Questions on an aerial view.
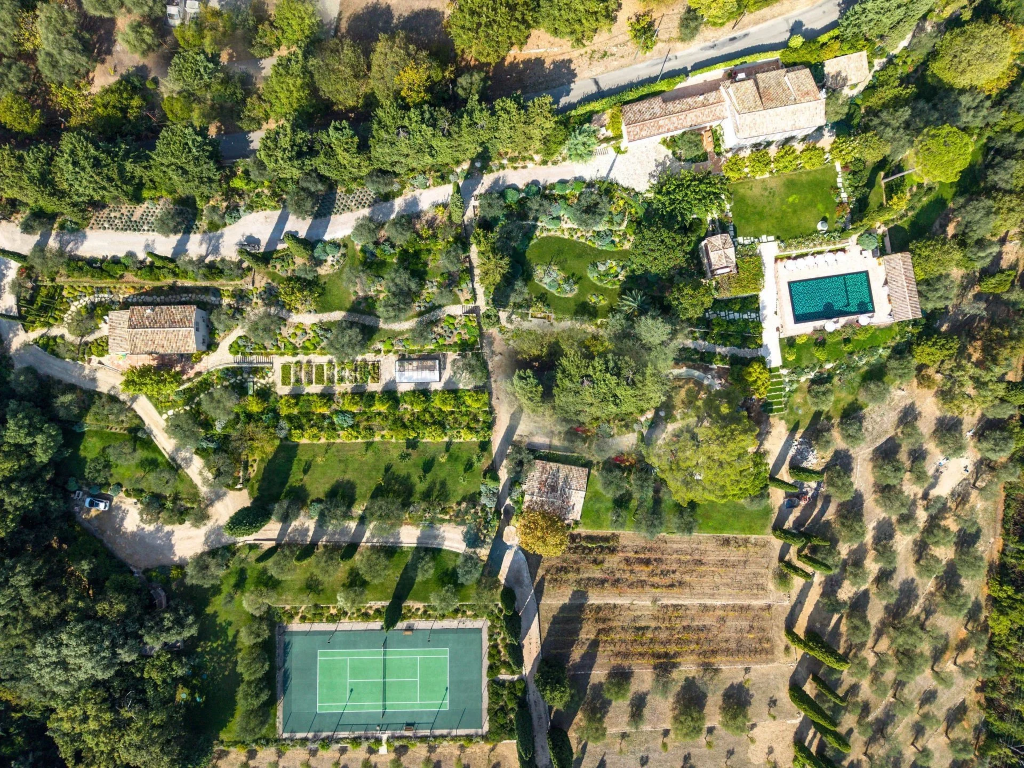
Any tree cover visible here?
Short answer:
Yes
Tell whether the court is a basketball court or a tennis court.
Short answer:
tennis court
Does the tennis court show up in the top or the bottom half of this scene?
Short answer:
bottom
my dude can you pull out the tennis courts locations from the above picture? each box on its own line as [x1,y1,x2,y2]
[274,619,491,744]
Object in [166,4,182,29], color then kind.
white car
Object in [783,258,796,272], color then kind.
white umbrella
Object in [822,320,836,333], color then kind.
white umbrella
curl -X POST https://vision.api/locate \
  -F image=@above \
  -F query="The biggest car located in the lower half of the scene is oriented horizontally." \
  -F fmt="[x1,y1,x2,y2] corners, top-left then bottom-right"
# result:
[86,497,111,510]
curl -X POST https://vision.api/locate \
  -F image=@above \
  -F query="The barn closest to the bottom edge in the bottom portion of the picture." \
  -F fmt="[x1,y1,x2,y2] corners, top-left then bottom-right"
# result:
[523,458,590,522]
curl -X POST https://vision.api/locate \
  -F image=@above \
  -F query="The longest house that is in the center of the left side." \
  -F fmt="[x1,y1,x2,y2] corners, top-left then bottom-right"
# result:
[111,305,207,355]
